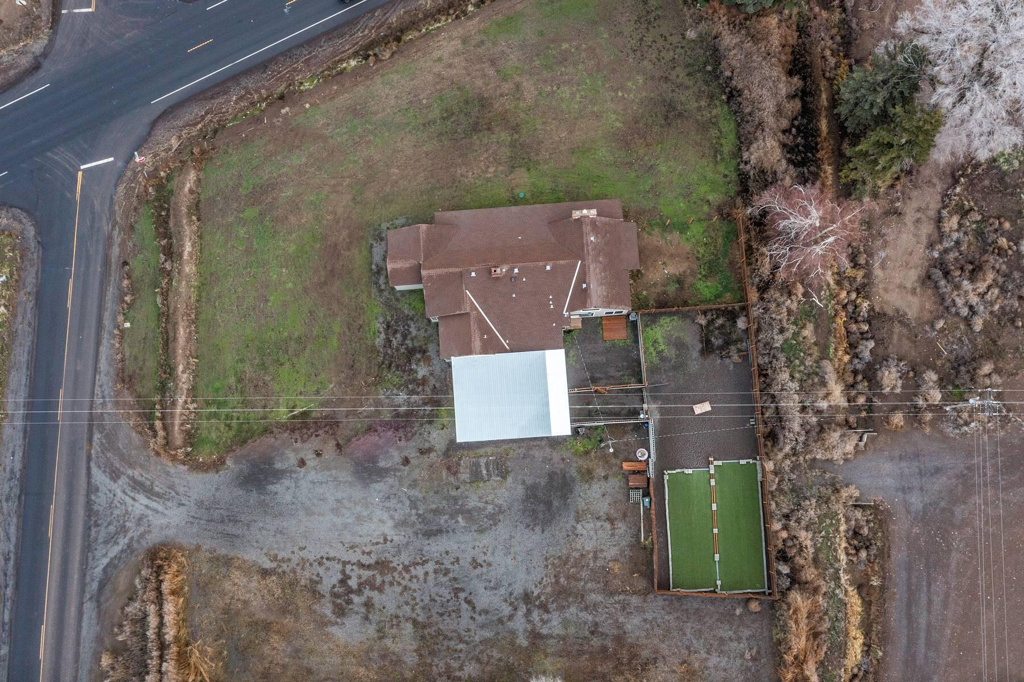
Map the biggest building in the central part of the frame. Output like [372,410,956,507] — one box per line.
[387,199,639,361]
